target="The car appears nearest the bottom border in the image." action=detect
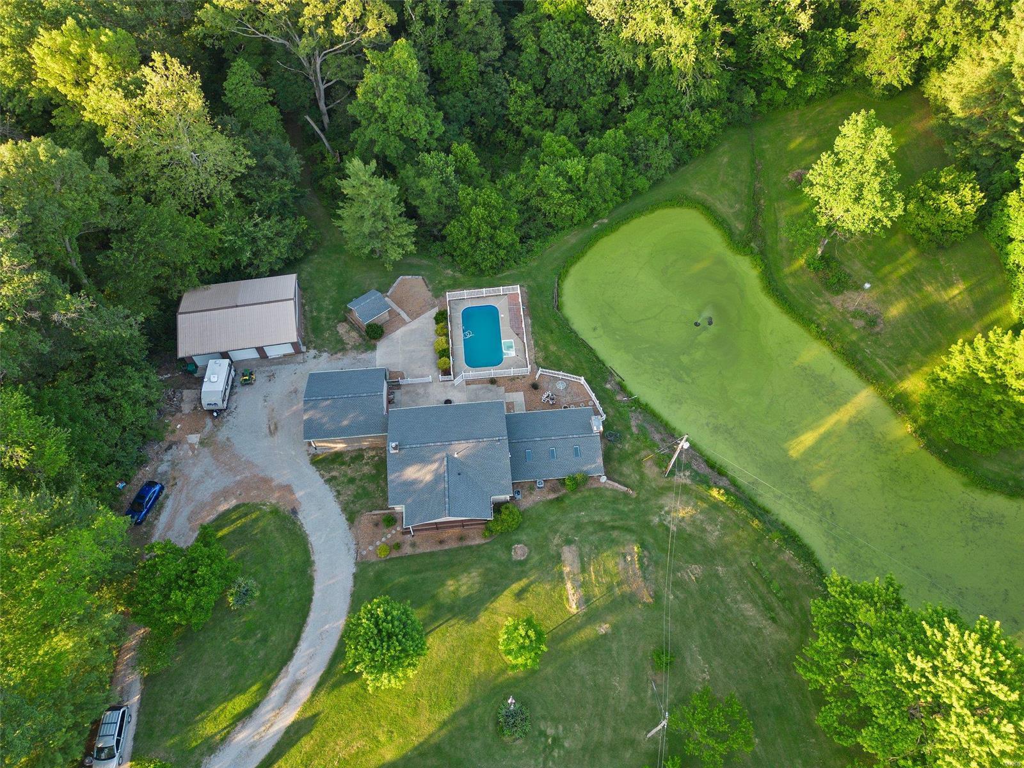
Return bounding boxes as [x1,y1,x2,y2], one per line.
[92,710,138,768]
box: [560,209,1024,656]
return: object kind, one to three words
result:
pond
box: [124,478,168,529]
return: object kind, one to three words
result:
car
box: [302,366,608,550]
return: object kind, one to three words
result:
house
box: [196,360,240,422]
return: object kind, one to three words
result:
trailer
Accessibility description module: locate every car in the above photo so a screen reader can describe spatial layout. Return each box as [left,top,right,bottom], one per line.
[124,478,168,529]
[92,710,138,768]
